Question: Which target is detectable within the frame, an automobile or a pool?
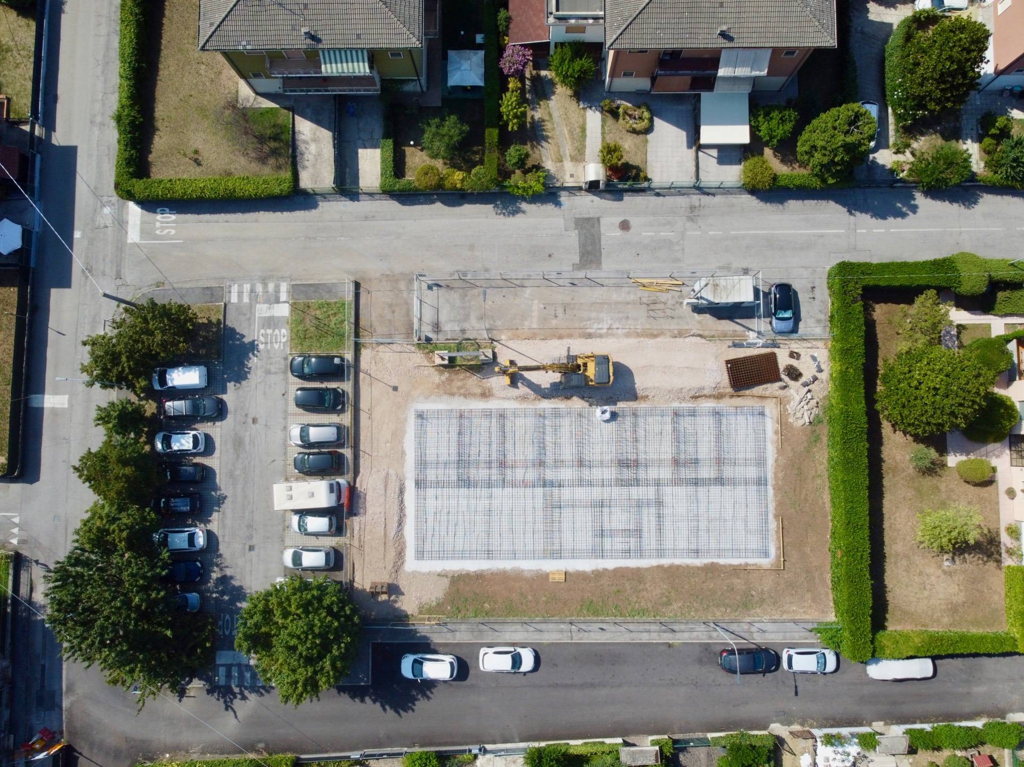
automobile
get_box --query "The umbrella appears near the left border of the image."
[0,219,25,253]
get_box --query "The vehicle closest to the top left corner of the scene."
[152,363,210,391]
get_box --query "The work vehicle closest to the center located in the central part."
[497,347,617,390]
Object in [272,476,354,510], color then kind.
white van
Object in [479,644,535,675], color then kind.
white car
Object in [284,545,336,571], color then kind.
white car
